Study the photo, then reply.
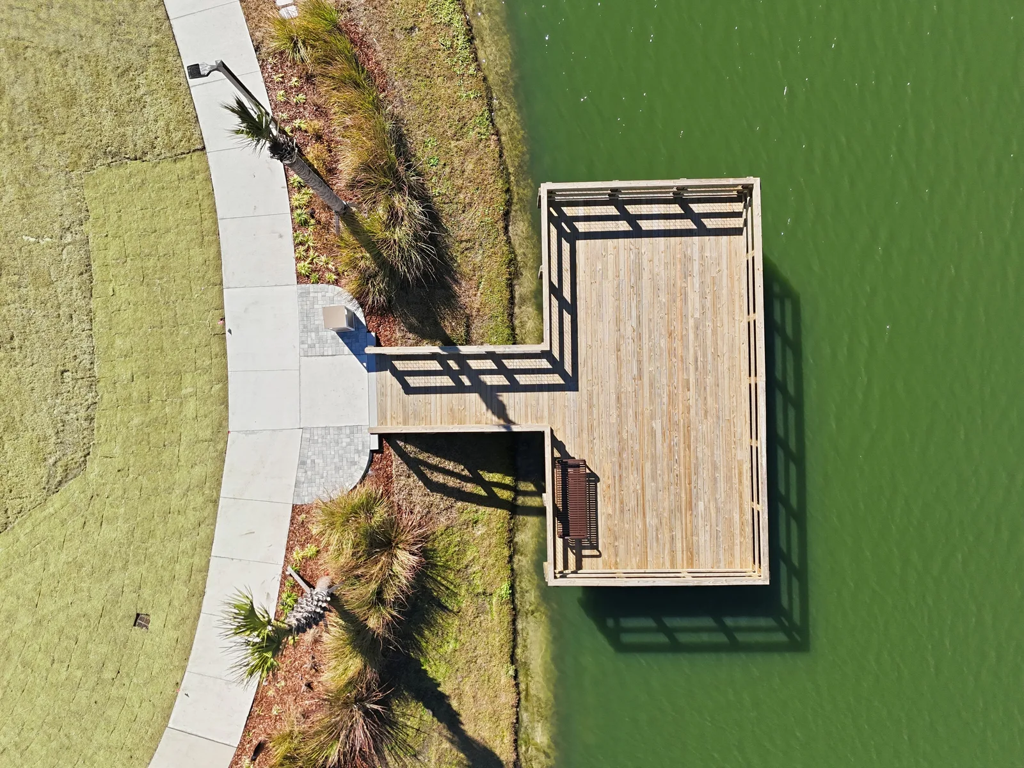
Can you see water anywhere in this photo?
Yes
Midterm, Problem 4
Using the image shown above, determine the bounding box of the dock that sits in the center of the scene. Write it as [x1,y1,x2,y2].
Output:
[365,177,770,586]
